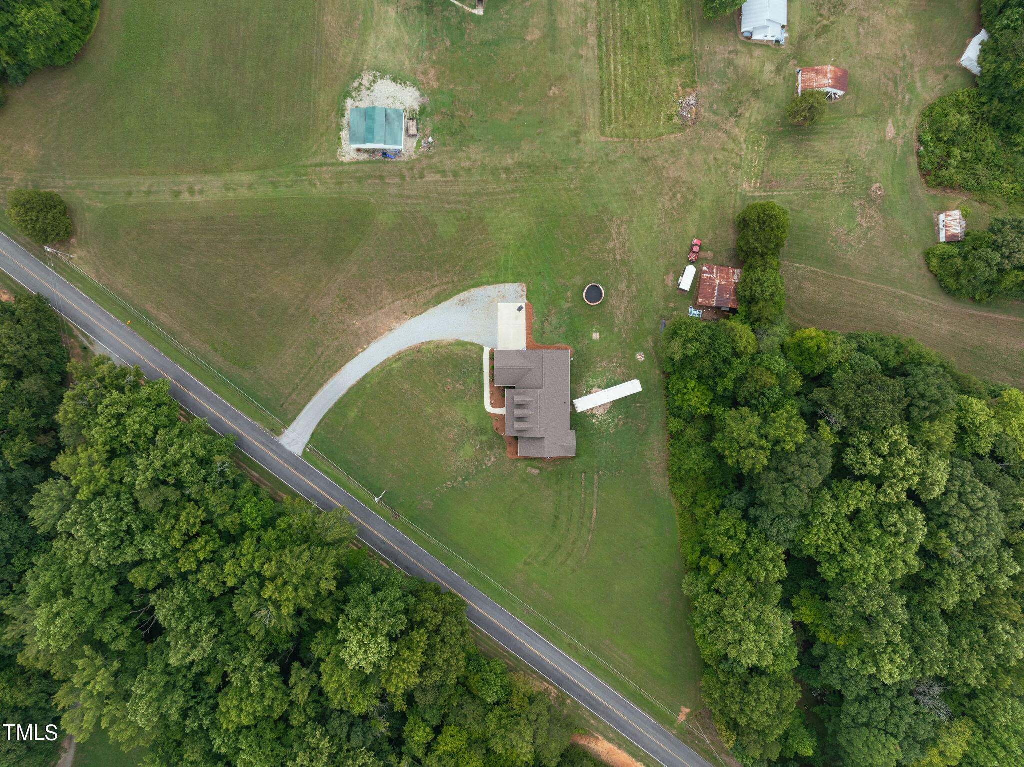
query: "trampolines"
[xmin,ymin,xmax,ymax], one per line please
[583,284,604,304]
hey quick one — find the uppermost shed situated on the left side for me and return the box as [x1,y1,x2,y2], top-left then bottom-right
[350,105,406,150]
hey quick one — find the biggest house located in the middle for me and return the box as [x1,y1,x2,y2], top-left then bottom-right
[494,349,576,458]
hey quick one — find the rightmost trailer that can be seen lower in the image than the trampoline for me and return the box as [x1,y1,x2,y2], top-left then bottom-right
[571,380,642,413]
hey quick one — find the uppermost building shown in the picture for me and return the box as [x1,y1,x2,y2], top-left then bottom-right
[740,0,788,45]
